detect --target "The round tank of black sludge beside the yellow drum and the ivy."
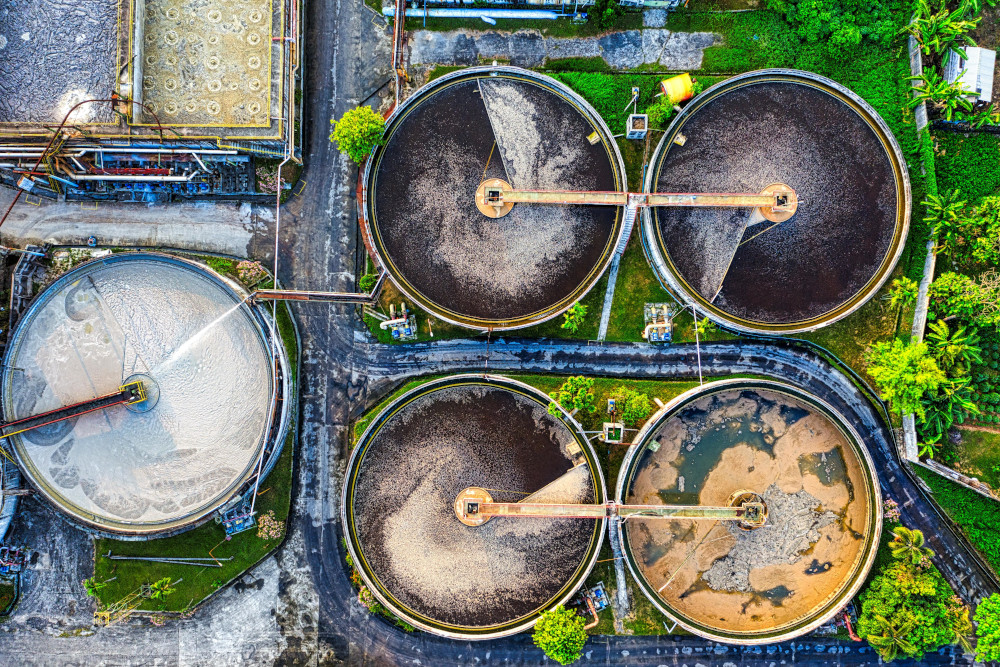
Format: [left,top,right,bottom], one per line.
[640,68,912,335]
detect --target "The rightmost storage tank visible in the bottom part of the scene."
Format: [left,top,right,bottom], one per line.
[612,376,884,645]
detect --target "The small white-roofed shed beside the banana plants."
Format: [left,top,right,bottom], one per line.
[929,46,997,108]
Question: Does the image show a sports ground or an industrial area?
industrial area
